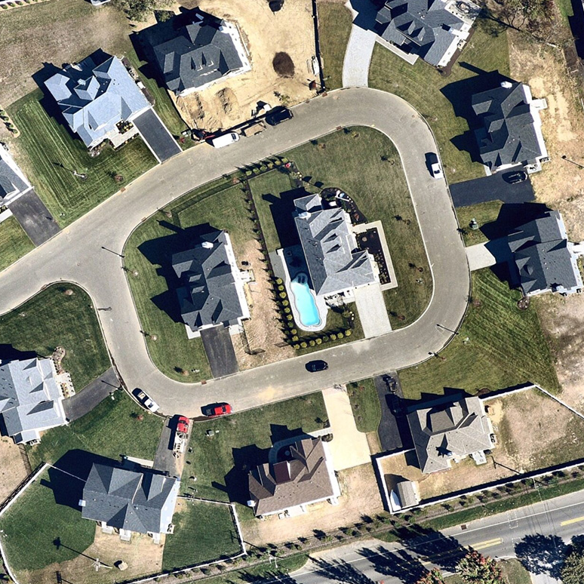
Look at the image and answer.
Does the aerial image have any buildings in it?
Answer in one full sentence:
Yes, a building is visible in the scene.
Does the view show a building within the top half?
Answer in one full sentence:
Yes, within the top half there is a building.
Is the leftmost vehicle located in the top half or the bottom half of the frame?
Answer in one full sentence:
You can find the leftmost vehicle in the bottom half.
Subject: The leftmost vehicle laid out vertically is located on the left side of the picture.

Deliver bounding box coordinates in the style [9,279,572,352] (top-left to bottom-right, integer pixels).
[172,418,189,454]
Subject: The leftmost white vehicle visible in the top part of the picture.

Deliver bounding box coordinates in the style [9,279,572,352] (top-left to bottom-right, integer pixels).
[212,132,237,146]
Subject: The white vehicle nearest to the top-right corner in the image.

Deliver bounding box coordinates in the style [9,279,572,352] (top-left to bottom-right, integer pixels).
[428,153,442,177]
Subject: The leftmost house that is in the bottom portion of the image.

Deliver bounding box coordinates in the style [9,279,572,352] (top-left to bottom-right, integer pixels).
[0,349,68,445]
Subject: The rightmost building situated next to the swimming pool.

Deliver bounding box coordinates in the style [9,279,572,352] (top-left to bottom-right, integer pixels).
[294,195,379,296]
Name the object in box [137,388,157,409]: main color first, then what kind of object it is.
white vehicle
